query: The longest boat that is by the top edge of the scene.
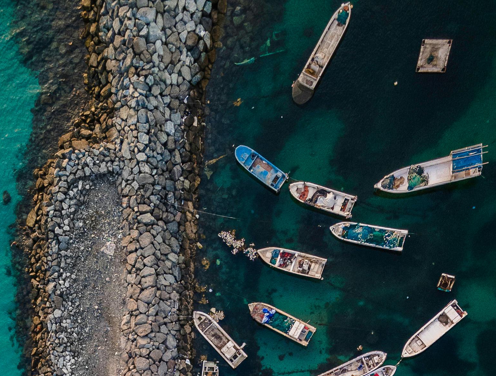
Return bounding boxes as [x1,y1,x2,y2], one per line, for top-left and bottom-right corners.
[294,1,350,101]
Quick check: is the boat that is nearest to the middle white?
No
